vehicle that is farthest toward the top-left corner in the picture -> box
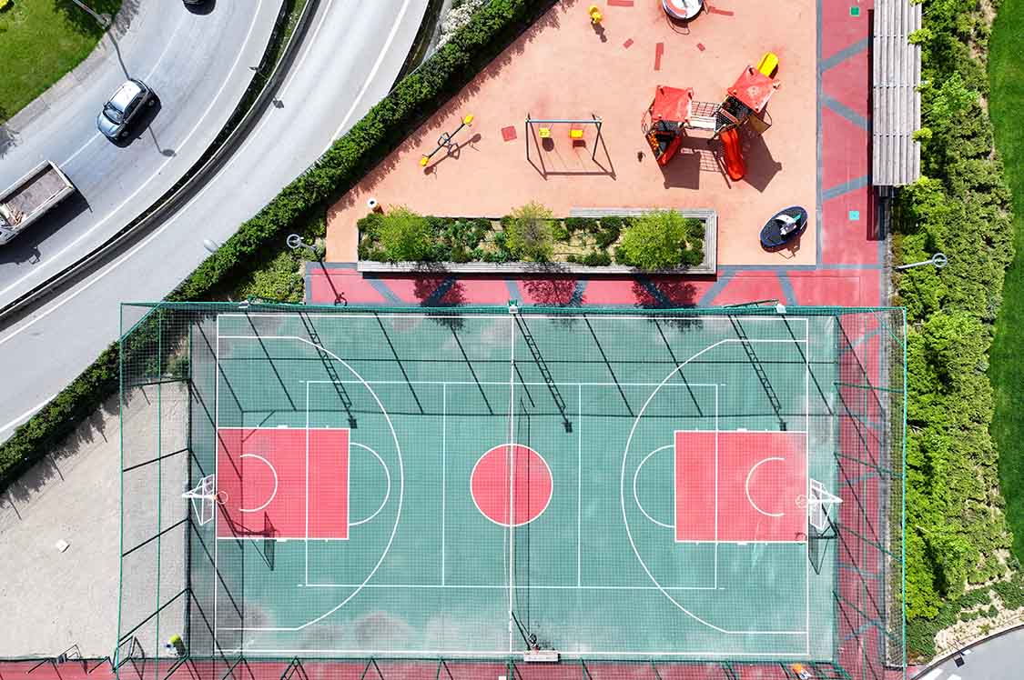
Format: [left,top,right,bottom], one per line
[99,77,157,139]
